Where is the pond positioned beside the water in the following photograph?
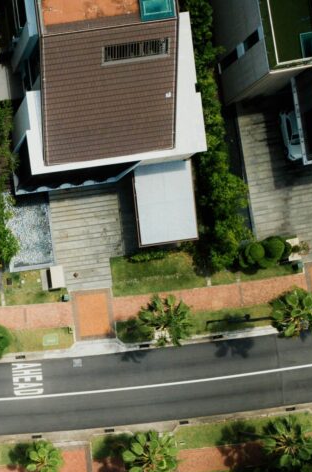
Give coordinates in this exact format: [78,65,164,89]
[0,191,54,271]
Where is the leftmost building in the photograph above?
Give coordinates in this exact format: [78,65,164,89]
[1,0,205,249]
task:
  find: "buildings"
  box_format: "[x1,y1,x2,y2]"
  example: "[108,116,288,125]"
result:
[218,0,312,170]
[1,0,205,249]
